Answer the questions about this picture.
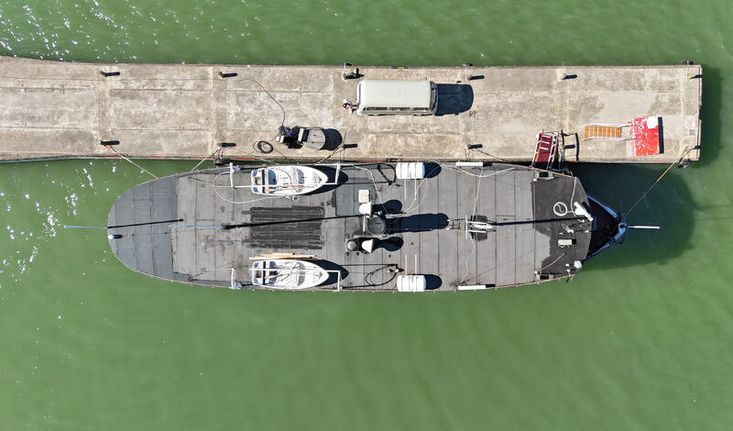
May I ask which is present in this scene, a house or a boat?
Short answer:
boat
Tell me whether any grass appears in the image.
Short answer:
No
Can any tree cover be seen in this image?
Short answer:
No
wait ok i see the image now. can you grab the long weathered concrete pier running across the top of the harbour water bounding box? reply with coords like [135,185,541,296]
[0,55,702,164]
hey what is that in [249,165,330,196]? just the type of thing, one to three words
boat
